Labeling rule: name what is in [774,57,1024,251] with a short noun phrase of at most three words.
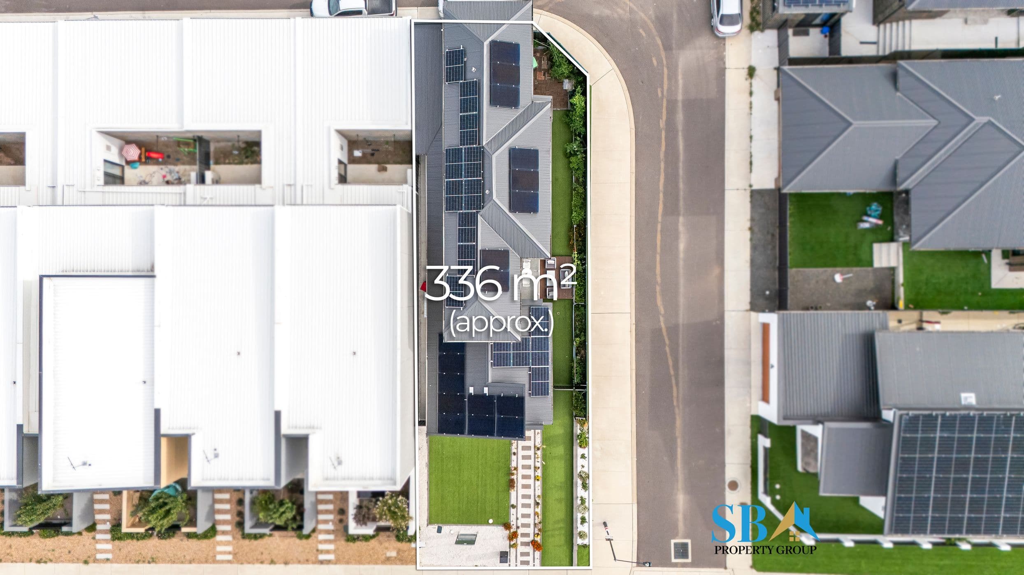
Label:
house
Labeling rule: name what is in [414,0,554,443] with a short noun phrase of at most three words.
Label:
house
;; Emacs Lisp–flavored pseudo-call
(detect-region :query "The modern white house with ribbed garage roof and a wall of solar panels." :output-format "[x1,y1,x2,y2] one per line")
[762,311,1024,539]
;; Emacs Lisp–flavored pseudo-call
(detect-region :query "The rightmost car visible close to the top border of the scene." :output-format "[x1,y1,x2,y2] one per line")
[707,0,742,43]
